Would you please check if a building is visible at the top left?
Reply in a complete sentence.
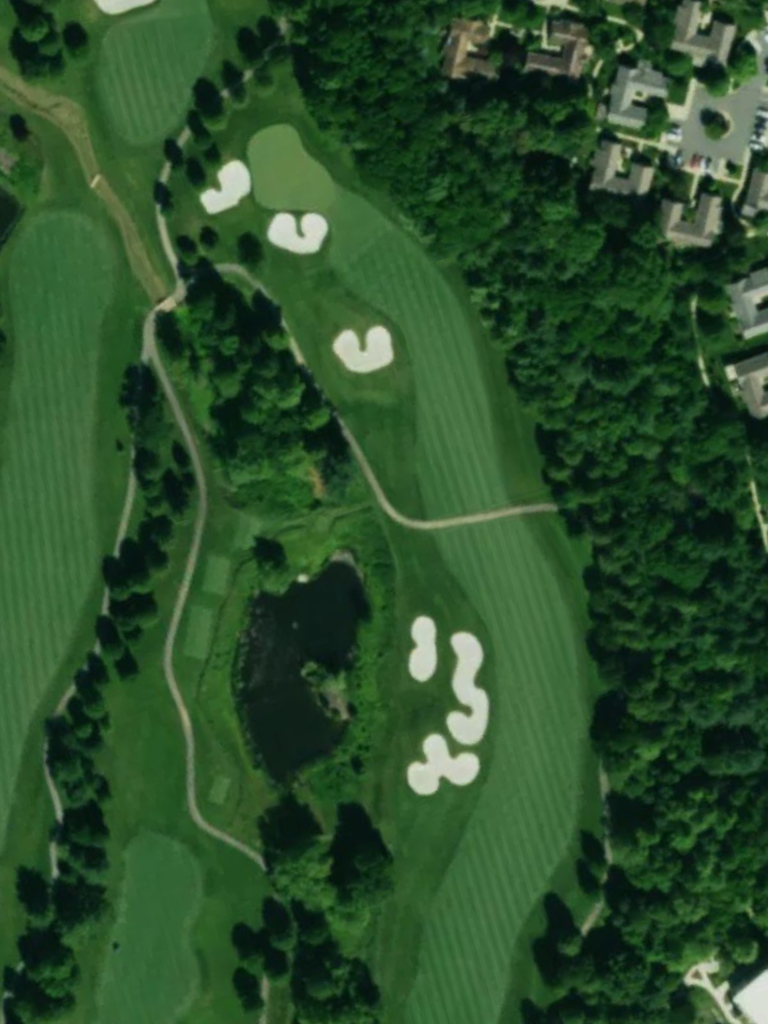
No, no building can be made out at the top left.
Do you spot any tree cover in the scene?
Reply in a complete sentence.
Yes, there's tree cover in this view.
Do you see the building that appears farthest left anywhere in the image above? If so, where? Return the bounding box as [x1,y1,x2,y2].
[444,22,498,82]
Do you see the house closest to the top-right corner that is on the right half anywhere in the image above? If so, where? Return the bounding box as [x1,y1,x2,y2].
[676,0,735,67]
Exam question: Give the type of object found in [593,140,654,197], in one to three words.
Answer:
house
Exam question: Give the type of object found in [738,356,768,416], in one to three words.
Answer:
house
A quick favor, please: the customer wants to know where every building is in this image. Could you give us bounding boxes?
[730,271,768,336]
[676,0,735,67]
[593,140,654,197]
[659,191,721,245]
[738,356,768,416]
[526,22,590,77]
[746,167,768,214]
[733,965,768,1024]
[609,59,670,127]
[444,22,498,82]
